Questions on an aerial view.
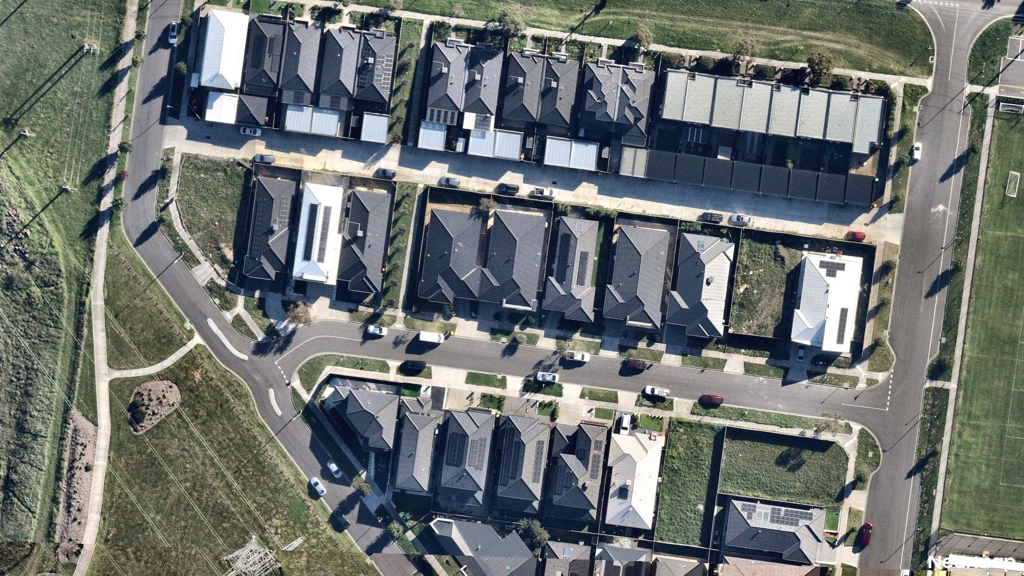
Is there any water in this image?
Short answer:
No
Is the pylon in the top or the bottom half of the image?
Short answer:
bottom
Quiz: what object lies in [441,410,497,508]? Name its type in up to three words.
house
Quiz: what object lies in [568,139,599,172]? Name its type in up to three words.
building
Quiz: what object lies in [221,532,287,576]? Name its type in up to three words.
pylon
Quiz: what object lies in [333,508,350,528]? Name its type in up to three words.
car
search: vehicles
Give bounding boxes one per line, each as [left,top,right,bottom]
[537,373,559,382]
[702,212,723,222]
[376,168,396,178]
[619,413,630,434]
[626,360,647,369]
[419,332,444,342]
[241,126,259,136]
[168,21,178,43]
[863,522,873,546]
[441,177,460,186]
[333,508,350,528]
[309,476,326,497]
[566,351,589,361]
[403,361,426,371]
[326,459,343,478]
[533,186,556,197]
[912,142,922,161]
[254,154,274,164]
[645,387,670,397]
[367,326,387,336]
[847,231,866,240]
[701,394,723,404]
[498,183,519,194]
[731,214,750,224]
